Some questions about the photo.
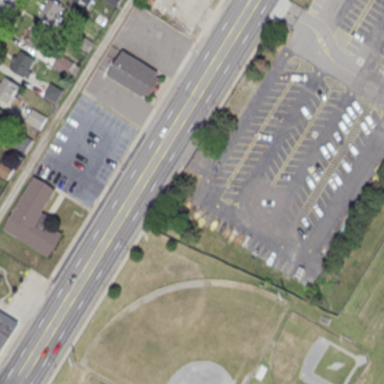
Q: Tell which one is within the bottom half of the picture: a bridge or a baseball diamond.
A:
baseball diamond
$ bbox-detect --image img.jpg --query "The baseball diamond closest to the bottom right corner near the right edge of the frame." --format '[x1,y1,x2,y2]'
[300,338,368,384]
